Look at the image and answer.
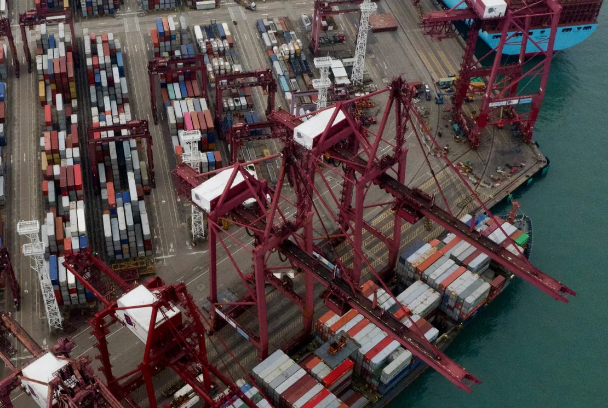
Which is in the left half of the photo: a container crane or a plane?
container crane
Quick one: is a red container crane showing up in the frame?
Yes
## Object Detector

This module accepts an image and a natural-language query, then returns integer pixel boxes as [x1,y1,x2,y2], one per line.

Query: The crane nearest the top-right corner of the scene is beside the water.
[417,0,576,150]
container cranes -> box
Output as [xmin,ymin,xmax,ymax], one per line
[214,66,275,133]
[0,18,18,77]
[148,55,212,123]
[309,0,365,57]
[168,146,479,402]
[417,0,576,150]
[65,246,283,408]
[272,74,582,303]
[0,300,121,408]
[0,244,18,314]
[15,8,80,72]
[230,103,294,166]
[85,120,156,193]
